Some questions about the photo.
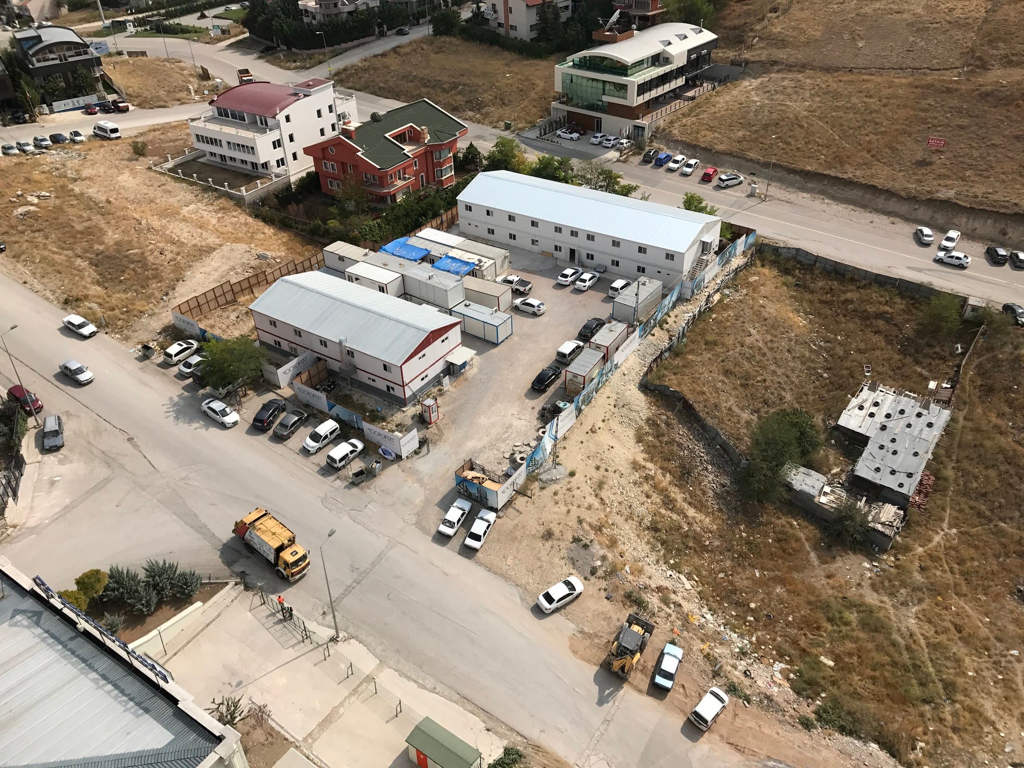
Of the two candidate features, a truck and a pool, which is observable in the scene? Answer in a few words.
truck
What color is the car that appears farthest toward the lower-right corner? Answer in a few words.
white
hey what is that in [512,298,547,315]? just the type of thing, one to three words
car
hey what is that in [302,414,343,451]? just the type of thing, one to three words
van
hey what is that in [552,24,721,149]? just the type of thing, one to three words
building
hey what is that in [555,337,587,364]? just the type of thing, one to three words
vehicle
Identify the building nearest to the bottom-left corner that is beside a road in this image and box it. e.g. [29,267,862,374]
[0,558,250,768]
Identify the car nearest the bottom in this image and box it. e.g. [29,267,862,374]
[689,684,729,733]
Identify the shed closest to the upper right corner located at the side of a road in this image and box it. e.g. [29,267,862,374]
[966,292,1003,325]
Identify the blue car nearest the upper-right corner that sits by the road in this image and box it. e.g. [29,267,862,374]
[654,152,673,165]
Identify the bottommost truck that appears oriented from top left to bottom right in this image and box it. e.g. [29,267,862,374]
[224,504,312,579]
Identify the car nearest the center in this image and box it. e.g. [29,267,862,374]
[530,363,566,392]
